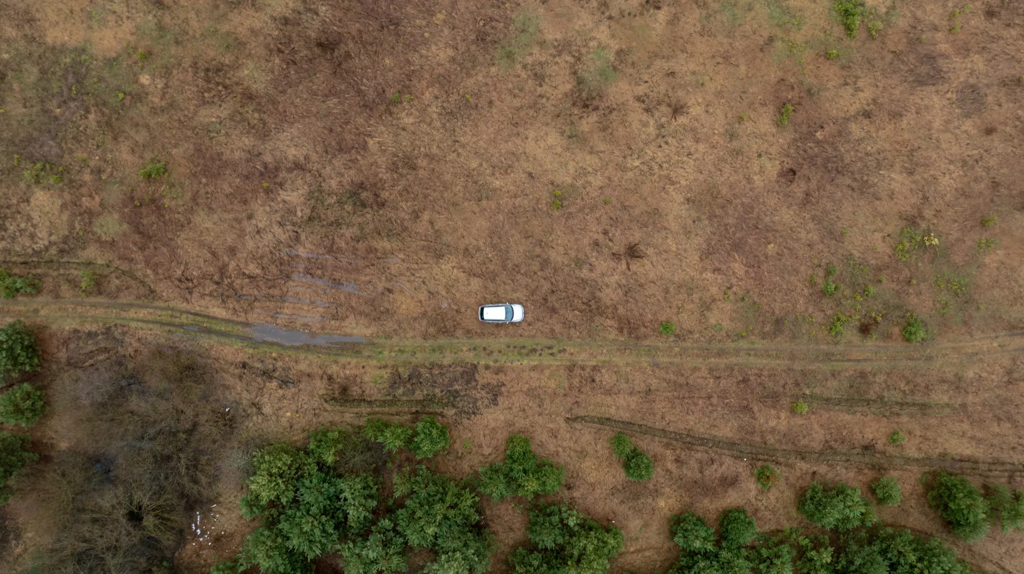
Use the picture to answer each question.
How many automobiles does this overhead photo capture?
one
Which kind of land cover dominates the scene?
grass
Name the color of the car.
white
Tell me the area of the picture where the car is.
center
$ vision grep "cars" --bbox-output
[478,303,524,324]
